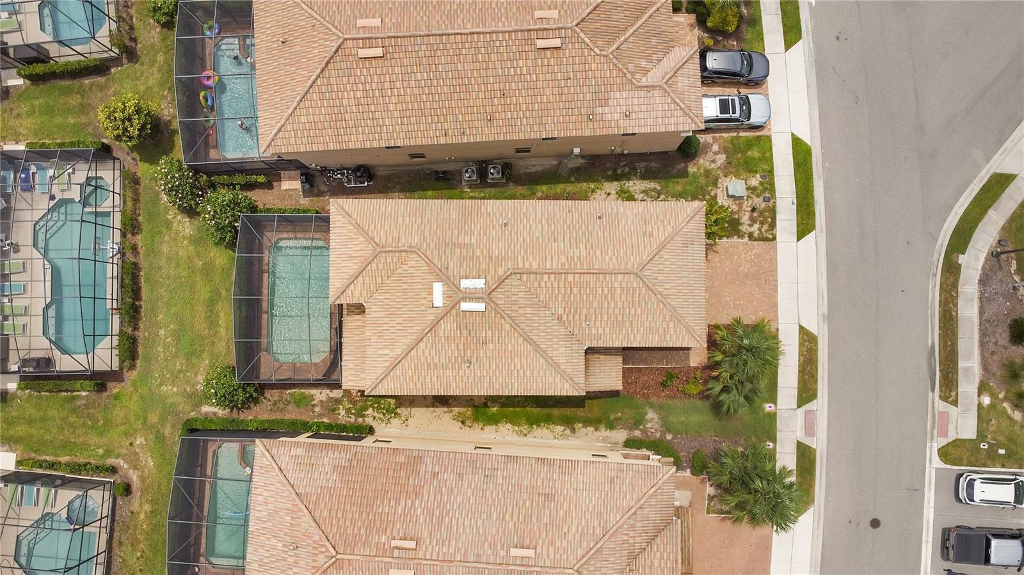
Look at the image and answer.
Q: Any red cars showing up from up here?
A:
No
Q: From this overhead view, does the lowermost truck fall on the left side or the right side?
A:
right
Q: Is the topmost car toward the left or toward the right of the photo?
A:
right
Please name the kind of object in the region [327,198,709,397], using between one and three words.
house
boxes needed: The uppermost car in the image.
[700,45,768,86]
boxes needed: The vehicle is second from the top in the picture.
[705,90,770,131]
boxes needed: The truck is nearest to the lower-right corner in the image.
[947,522,1024,565]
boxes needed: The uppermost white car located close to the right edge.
[954,467,1024,509]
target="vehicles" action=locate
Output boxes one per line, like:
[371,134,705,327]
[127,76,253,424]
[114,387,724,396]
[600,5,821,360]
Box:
[947,522,1024,565]
[700,45,768,86]
[705,90,770,131]
[954,467,1024,509]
